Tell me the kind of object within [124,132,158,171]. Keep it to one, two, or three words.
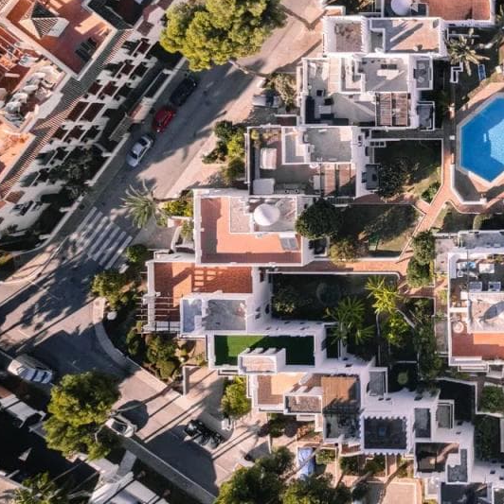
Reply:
car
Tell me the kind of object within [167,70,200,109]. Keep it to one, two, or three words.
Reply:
car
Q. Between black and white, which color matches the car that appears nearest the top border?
black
